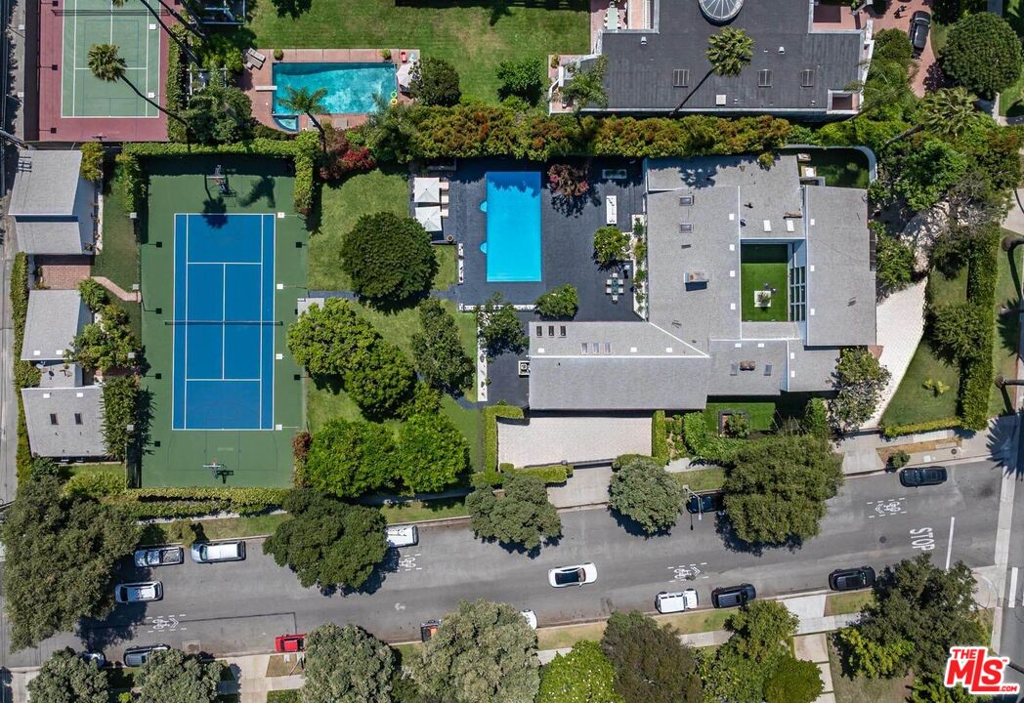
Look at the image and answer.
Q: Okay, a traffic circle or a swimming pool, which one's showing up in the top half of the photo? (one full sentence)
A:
There is a swimming pool in the top half of the photo.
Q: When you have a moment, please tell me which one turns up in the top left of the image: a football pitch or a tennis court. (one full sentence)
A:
Visible in the top left of the image is a tennis court.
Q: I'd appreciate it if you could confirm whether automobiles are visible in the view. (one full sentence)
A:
Yes, you can see an automobile in this photo.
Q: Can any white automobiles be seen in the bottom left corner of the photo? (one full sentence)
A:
Yes, looking in the bottom left corner of the photo, one can make out a white automobile.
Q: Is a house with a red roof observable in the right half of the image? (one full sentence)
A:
No, no house with a red roof appears in the right half of the image.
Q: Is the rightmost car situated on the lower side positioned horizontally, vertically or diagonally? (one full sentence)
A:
The rightmost car situated on the lower side runs horizontally in the image.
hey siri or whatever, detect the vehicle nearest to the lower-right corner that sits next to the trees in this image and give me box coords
[827,565,874,589]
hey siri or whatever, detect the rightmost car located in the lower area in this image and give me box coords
[898,464,948,488]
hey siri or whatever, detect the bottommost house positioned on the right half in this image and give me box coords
[528,156,877,410]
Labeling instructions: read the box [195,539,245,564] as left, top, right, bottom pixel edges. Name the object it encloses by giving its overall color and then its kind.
white car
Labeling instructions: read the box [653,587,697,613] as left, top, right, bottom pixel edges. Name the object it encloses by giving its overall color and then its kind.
white car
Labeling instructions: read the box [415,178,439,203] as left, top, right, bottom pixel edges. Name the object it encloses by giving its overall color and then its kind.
white umbrella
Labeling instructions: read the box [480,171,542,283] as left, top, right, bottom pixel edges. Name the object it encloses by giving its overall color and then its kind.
blue swimming pool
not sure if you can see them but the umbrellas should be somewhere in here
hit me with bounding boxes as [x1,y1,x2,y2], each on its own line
[390,62,413,85]
[416,206,442,231]
[415,178,439,203]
